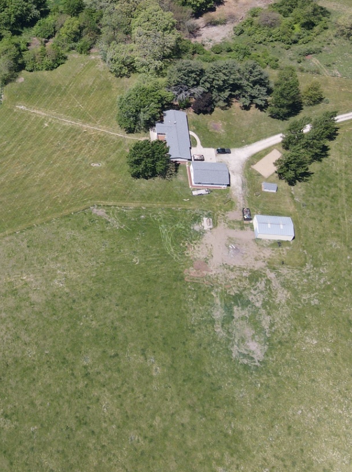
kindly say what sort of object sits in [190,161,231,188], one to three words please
building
